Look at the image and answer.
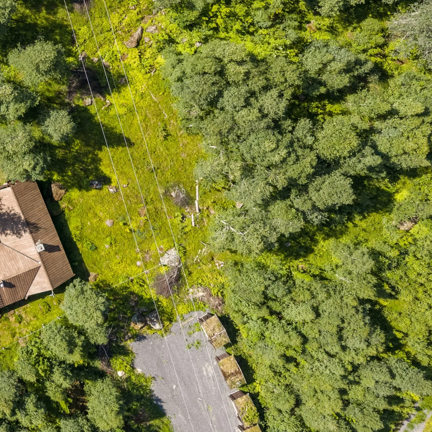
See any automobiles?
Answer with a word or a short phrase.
No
